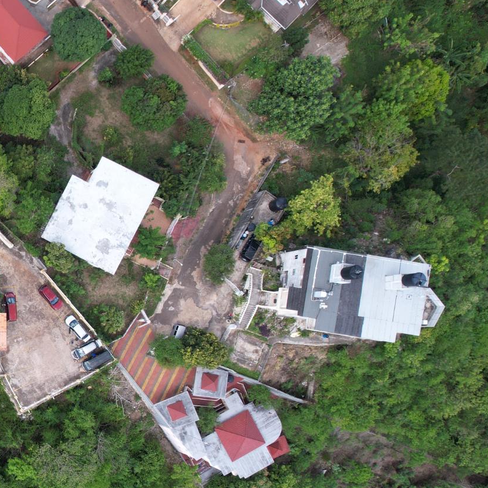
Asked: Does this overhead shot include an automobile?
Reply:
Yes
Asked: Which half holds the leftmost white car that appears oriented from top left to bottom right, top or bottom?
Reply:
bottom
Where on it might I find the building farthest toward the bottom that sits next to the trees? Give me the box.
[151,367,291,485]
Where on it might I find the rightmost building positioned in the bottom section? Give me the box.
[264,245,444,343]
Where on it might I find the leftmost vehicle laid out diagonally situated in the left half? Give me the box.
[38,282,63,313]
